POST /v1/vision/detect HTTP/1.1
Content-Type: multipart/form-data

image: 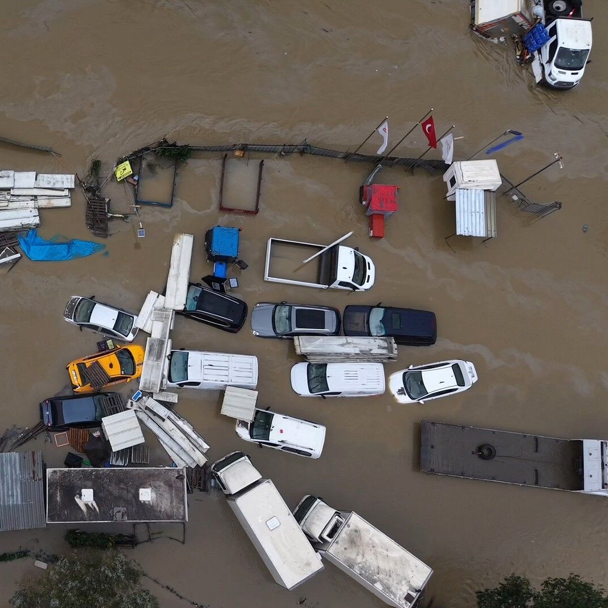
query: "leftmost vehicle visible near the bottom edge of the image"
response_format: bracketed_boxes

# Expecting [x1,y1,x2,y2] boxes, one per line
[205,450,324,590]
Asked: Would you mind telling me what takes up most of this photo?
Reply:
water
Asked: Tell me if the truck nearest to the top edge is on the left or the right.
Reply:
right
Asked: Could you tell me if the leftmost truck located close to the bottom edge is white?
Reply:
Yes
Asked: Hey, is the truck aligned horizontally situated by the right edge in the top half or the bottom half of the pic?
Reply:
bottom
